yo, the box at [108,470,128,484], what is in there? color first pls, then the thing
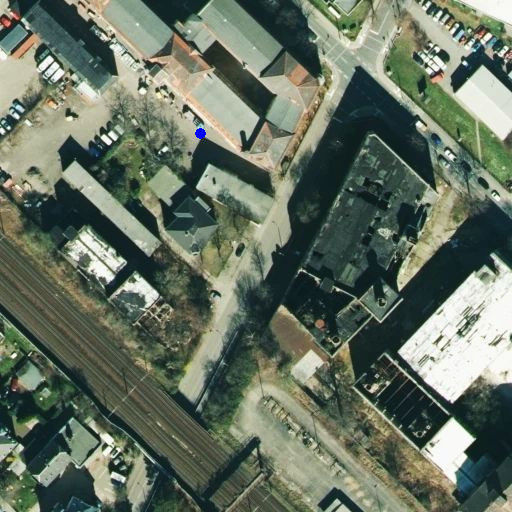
white vehicle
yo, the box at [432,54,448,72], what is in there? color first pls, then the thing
white vehicle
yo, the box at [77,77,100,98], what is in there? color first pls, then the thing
white truck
